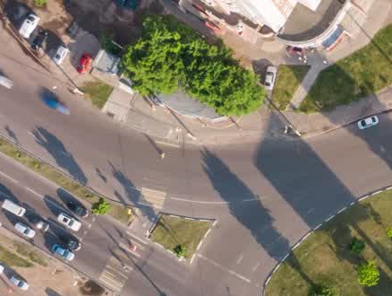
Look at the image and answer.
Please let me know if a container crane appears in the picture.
No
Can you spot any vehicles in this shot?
Yes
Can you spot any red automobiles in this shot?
Yes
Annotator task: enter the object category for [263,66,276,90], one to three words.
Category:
vehicle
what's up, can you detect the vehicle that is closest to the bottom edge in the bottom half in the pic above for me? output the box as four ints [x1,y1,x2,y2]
[7,274,31,292]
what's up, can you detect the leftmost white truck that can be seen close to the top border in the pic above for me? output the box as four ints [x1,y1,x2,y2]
[15,11,43,41]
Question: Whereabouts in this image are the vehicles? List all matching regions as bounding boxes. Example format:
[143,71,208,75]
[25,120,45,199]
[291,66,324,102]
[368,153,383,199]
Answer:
[263,66,276,90]
[29,28,49,52]
[57,213,82,230]
[0,72,10,84]
[15,11,43,41]
[13,221,38,239]
[0,197,30,218]
[52,243,75,260]
[76,52,93,75]
[52,45,70,65]
[286,46,307,56]
[61,233,84,251]
[116,0,140,10]
[44,94,67,112]
[63,198,88,216]
[30,216,55,233]
[7,274,31,292]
